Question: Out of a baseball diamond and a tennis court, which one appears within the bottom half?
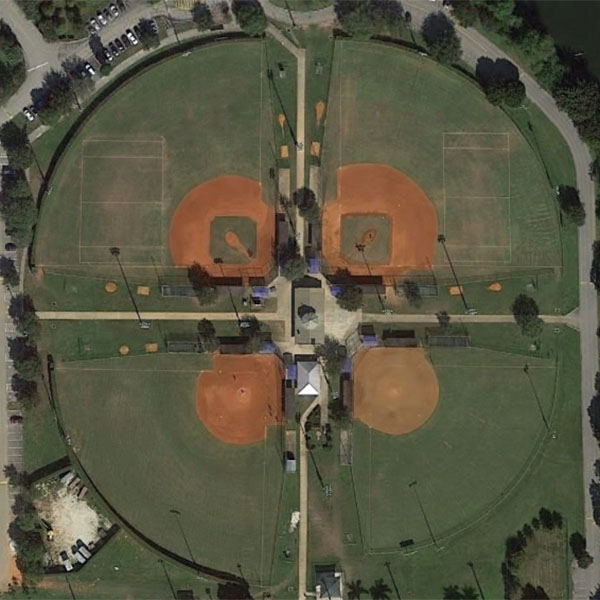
baseball diamond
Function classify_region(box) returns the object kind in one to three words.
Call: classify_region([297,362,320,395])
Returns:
building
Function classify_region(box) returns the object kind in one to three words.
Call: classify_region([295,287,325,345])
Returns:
building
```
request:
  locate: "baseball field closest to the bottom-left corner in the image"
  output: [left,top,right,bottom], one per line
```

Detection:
[49,353,285,588]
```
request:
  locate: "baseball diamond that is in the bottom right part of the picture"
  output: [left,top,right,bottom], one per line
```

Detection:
[351,346,557,553]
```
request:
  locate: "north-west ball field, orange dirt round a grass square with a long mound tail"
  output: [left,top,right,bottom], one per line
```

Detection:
[33,39,278,284]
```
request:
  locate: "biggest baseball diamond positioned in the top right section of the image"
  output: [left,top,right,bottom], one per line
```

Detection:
[320,39,562,284]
